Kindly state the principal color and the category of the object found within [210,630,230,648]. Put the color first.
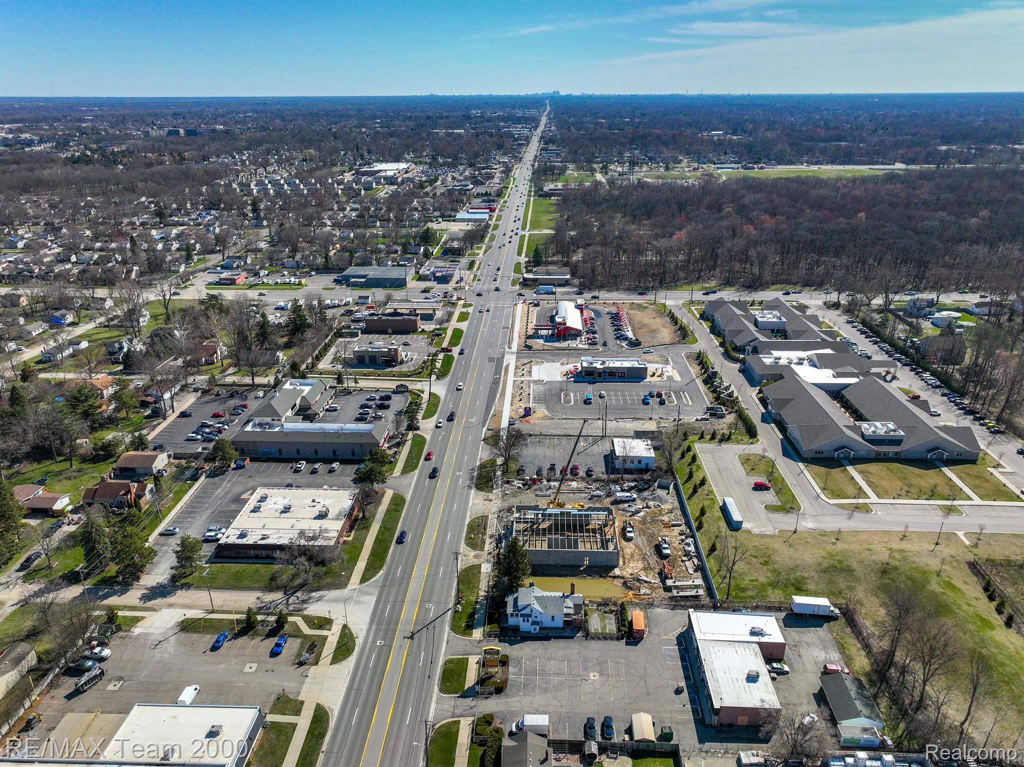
blue car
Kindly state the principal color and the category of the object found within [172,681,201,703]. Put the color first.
white vehicle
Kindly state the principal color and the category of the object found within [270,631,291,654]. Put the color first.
blue truck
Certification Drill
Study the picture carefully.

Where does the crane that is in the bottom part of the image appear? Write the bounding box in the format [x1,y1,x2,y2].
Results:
[545,419,587,509]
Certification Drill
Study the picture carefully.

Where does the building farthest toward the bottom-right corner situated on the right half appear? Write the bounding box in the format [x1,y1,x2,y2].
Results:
[817,669,892,736]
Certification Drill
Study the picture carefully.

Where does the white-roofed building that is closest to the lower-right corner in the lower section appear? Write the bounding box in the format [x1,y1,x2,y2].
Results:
[680,609,785,728]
